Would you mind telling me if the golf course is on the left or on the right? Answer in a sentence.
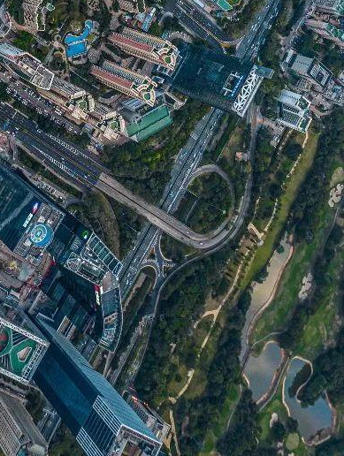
You can find the golf course on the right side of the picture.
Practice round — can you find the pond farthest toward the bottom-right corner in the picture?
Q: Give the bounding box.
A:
[285,359,332,442]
